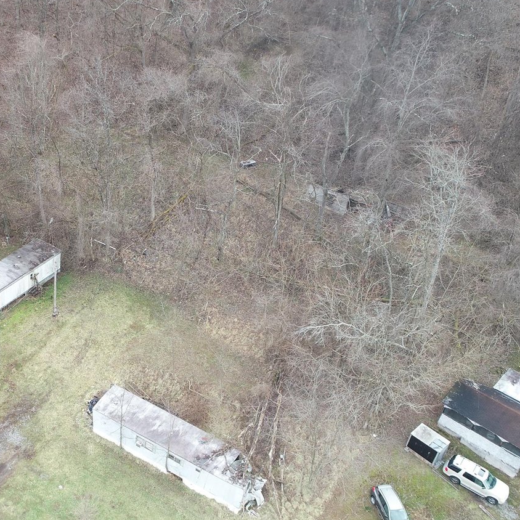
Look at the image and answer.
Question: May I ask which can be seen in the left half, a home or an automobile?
home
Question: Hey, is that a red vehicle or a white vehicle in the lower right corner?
white vehicle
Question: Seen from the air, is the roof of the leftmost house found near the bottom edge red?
No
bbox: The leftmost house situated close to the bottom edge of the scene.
[92,386,257,515]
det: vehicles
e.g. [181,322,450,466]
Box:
[445,459,510,506]
[372,483,411,520]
